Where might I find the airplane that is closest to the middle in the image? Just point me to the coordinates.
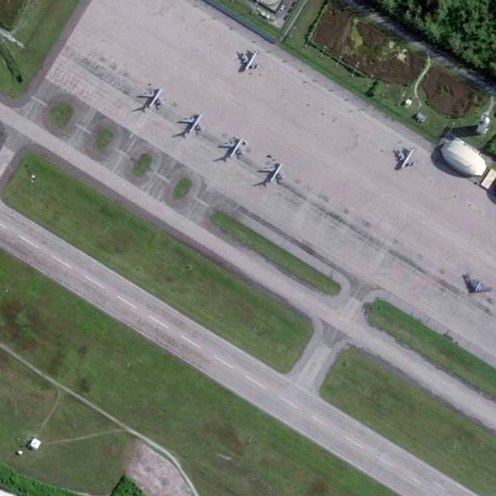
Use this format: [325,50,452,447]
[263,162,283,185]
